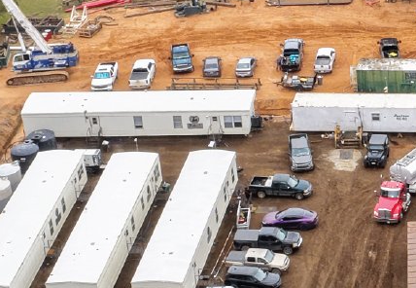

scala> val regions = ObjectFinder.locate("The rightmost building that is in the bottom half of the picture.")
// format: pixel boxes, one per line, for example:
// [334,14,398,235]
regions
[130,149,239,288]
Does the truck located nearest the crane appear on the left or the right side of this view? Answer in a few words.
left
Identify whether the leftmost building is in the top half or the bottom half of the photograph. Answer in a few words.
bottom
